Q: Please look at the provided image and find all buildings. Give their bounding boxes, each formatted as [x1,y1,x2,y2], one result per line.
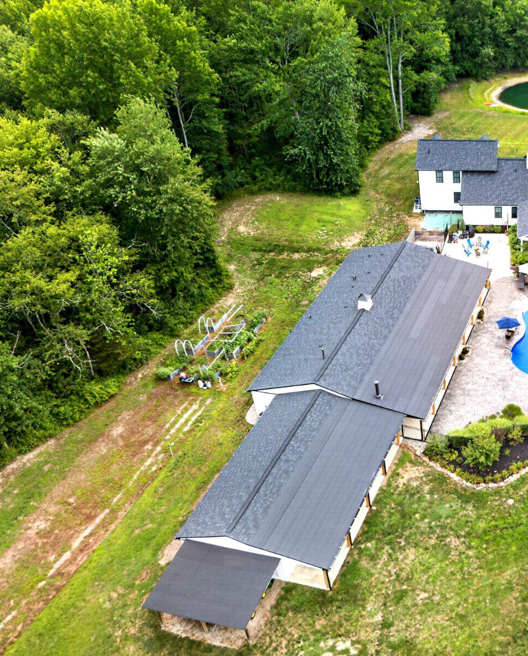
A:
[140,240,493,647]
[414,132,528,250]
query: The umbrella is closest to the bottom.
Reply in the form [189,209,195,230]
[496,315,522,334]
